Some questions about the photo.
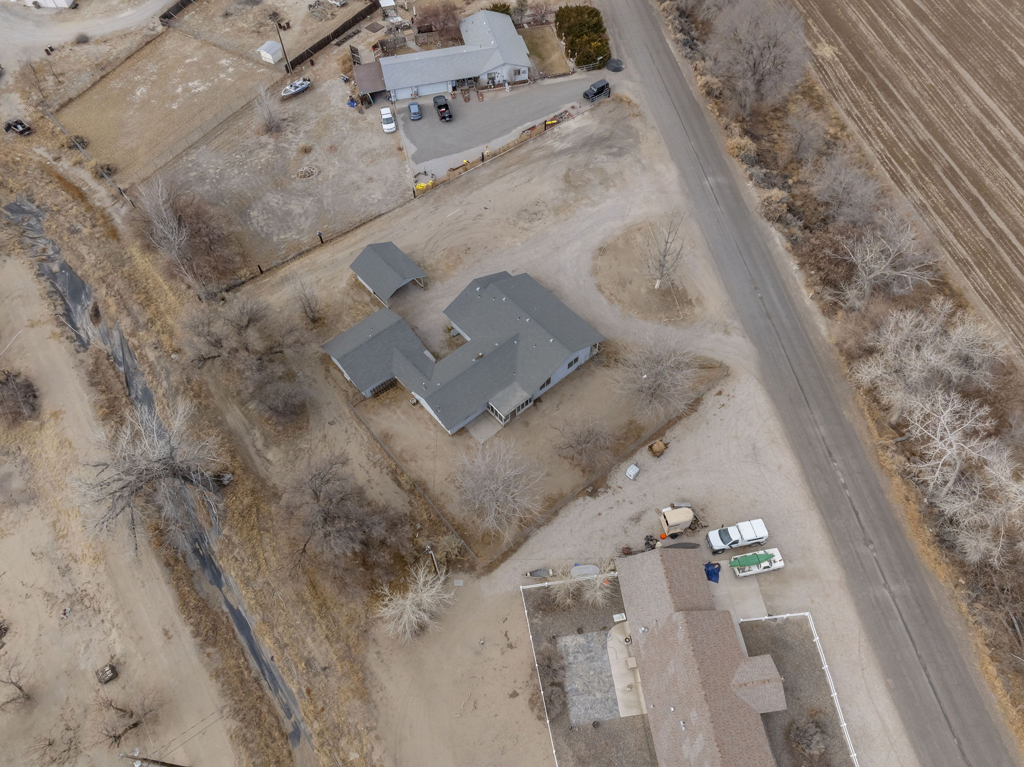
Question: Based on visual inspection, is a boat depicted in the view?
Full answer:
Yes, the frame does contain a boat.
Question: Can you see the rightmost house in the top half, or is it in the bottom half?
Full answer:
The bottom half of the photo is where the rightmost house is.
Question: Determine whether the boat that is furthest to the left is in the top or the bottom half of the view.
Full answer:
It is in the top half that the boat that is furthest to the left appears.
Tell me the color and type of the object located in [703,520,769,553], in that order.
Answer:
white truck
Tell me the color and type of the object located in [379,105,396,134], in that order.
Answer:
white car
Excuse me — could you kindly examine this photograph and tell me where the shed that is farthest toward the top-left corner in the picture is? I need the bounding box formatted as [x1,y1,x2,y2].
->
[256,42,284,67]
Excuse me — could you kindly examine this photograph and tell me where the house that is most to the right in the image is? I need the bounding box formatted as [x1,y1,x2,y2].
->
[610,545,779,767]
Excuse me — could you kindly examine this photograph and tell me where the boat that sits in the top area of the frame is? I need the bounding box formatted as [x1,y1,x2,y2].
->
[274,78,316,102]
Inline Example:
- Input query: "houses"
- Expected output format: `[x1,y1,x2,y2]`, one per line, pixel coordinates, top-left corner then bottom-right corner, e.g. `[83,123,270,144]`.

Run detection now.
[610,545,779,767]
[319,270,606,435]
[378,6,531,104]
